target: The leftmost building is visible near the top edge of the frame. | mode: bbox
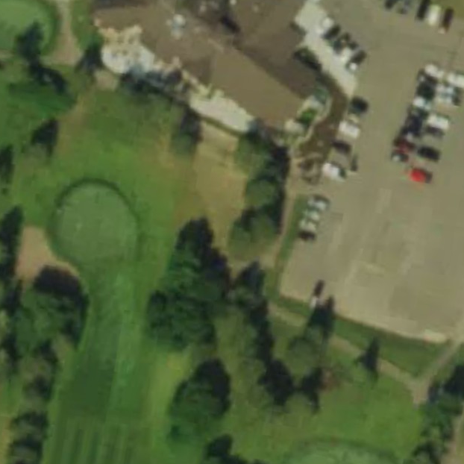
[94,0,322,126]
